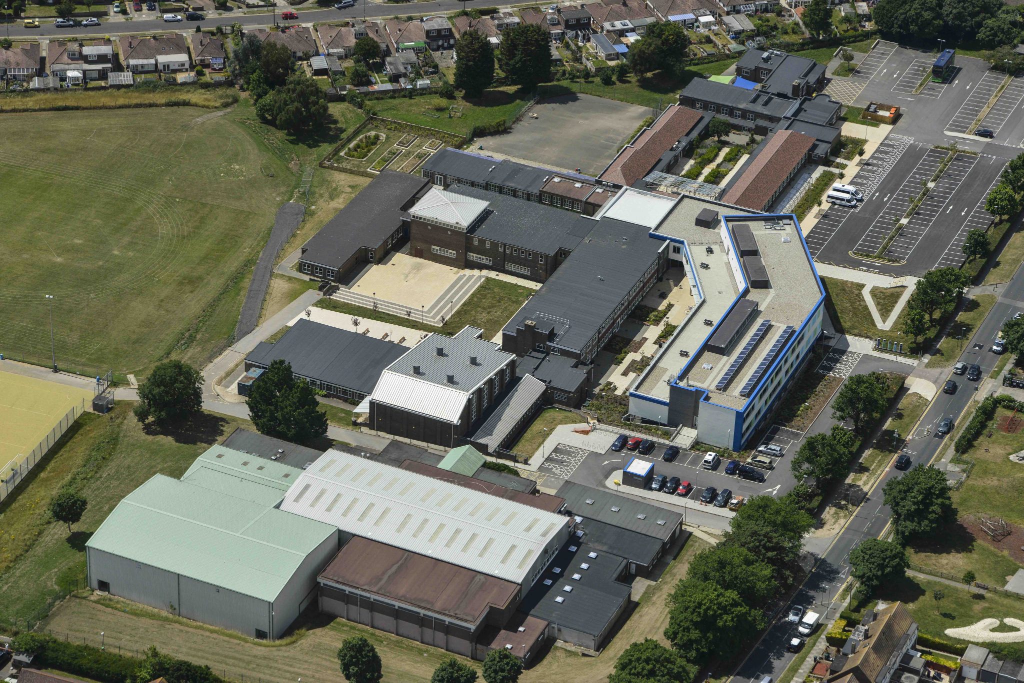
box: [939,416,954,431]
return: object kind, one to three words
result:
car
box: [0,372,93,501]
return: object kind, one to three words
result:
sports field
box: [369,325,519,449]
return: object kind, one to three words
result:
building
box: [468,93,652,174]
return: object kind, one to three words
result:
sports court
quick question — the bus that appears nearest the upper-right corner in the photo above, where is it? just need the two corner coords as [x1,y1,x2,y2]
[931,48,953,82]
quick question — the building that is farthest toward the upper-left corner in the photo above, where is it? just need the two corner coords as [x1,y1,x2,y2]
[0,43,42,83]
